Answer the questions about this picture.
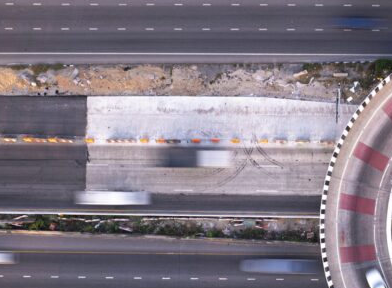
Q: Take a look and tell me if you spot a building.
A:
No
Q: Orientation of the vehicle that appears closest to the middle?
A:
from left to right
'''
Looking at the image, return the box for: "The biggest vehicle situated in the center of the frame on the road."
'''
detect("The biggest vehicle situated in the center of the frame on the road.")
[161,147,229,167]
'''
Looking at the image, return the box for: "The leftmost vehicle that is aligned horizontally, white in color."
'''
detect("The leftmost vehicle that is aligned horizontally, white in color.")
[87,190,136,206]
